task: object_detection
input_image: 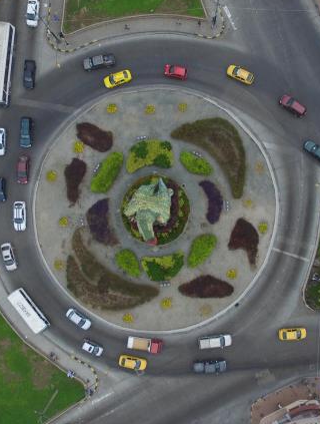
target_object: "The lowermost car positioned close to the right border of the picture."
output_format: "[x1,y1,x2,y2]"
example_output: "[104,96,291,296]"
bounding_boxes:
[278,327,306,341]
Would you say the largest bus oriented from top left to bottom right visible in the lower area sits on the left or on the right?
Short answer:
left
